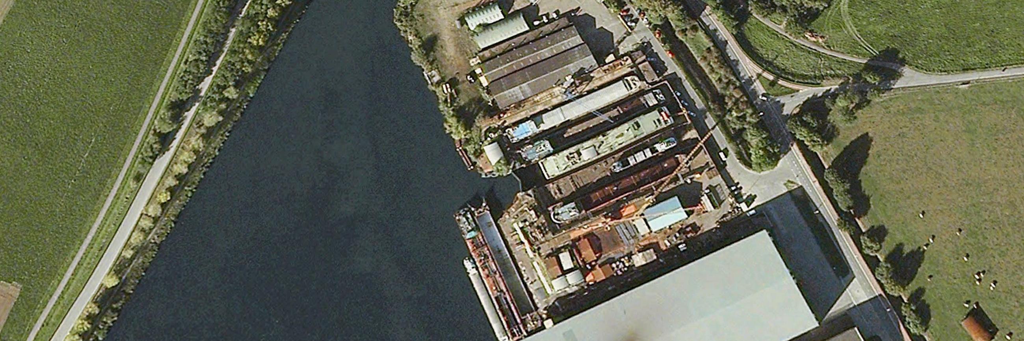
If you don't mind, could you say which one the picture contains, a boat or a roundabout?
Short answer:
boat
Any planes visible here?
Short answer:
No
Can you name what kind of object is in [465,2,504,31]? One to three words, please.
building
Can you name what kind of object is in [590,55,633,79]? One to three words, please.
ship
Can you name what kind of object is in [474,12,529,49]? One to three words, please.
building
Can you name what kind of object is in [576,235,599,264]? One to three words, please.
shed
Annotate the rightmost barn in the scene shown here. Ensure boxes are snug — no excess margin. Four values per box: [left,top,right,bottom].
[962,309,997,341]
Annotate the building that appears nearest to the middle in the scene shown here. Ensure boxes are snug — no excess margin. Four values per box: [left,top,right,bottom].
[483,141,506,167]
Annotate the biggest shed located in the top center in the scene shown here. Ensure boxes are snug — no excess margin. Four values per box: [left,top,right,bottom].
[478,24,595,110]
